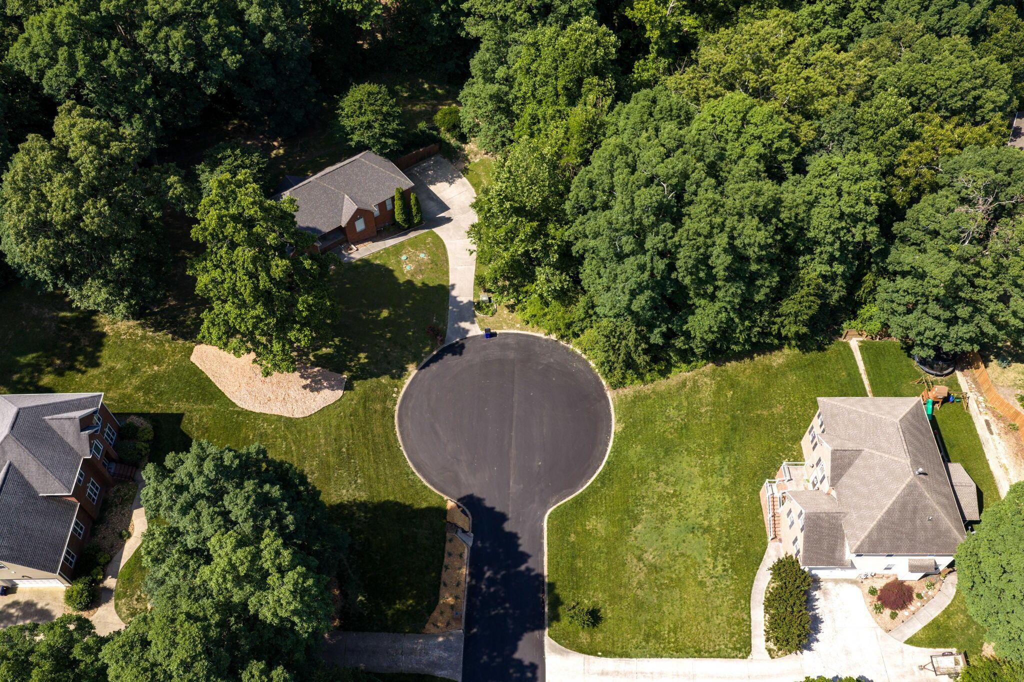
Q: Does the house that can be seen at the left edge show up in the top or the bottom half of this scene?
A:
bottom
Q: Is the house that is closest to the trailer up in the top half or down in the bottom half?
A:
bottom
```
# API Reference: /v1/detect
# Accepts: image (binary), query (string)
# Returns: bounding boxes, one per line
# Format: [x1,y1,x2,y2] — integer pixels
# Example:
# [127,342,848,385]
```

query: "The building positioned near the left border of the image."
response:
[0,392,147,587]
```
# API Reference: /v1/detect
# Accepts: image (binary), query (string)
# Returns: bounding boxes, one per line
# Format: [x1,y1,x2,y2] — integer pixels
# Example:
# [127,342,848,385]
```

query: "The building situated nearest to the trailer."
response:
[762,397,978,579]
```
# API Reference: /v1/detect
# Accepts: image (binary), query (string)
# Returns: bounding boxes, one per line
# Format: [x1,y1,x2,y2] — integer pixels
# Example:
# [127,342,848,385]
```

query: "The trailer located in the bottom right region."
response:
[916,650,971,677]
